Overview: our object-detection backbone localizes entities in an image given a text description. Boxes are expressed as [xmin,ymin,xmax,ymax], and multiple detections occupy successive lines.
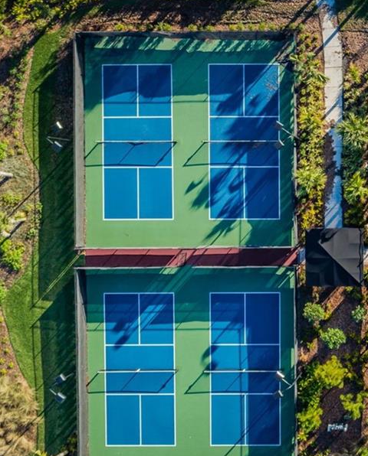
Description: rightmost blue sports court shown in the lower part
[193,269,295,456]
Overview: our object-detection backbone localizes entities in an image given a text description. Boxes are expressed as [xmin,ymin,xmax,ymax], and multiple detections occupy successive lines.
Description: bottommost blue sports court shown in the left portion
[86,269,193,456]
